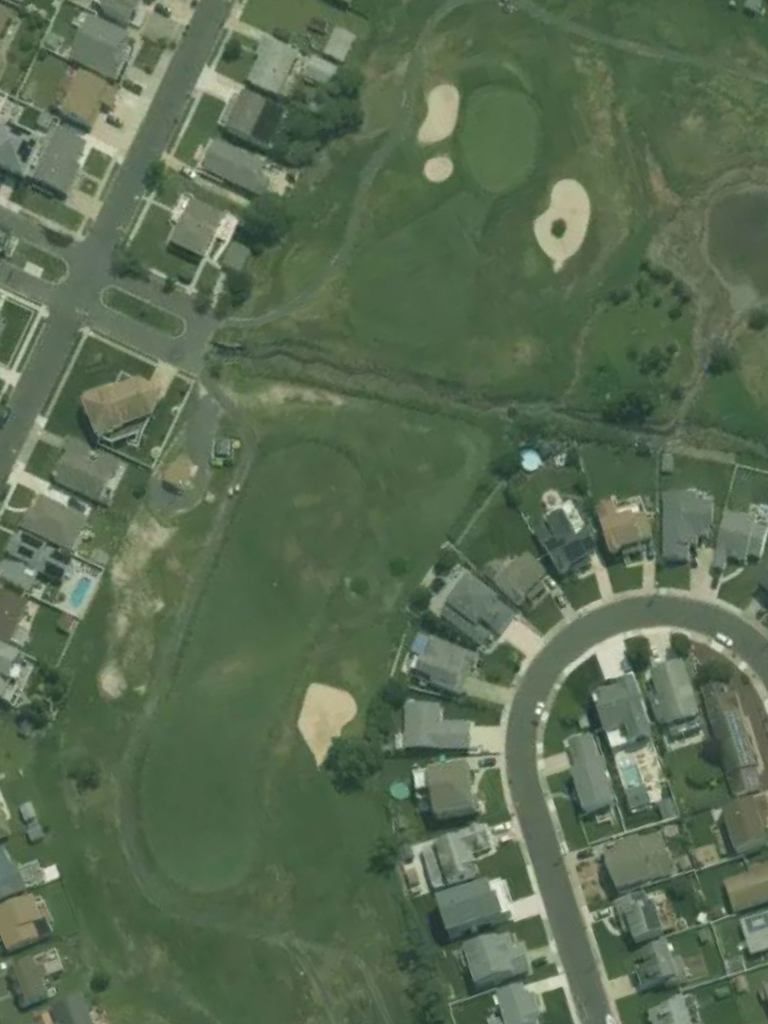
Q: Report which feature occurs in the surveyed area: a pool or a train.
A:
pool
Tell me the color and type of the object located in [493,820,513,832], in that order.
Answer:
white vehicle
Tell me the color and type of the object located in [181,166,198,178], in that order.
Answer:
white vehicle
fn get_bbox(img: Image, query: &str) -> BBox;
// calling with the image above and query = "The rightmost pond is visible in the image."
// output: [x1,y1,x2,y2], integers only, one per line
[705,183,768,302]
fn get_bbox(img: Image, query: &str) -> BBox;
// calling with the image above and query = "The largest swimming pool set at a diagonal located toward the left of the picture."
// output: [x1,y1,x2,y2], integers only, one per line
[69,574,95,609]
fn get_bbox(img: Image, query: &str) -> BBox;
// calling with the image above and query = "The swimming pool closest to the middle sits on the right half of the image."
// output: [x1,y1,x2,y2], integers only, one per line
[520,449,542,470]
